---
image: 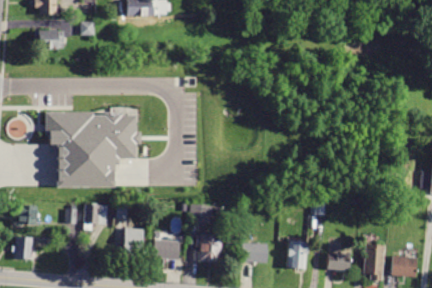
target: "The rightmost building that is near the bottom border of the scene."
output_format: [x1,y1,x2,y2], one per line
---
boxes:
[392,254,418,279]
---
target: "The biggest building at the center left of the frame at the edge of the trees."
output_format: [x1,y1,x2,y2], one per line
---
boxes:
[44,106,142,187]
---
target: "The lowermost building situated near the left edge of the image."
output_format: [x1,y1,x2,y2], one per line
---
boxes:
[14,236,33,261]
